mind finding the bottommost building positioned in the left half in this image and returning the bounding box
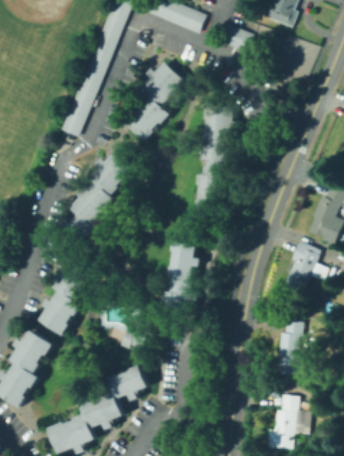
[46,419,93,456]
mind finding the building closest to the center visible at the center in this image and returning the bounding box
[166,245,199,298]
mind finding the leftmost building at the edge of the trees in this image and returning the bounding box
[0,332,50,408]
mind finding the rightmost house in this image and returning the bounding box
[310,190,344,244]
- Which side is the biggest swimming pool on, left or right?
left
